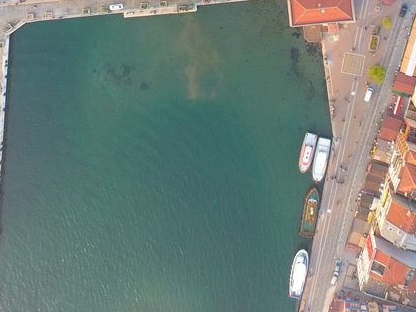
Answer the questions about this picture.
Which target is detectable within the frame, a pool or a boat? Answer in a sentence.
Of the two, only a boat appears.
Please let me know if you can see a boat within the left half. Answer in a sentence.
No, no boat appears within the left half.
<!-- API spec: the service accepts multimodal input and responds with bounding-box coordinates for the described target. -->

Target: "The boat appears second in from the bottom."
[300,186,318,237]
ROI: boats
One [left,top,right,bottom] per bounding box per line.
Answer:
[314,136,332,181]
[300,186,318,237]
[288,248,310,298]
[300,131,317,172]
